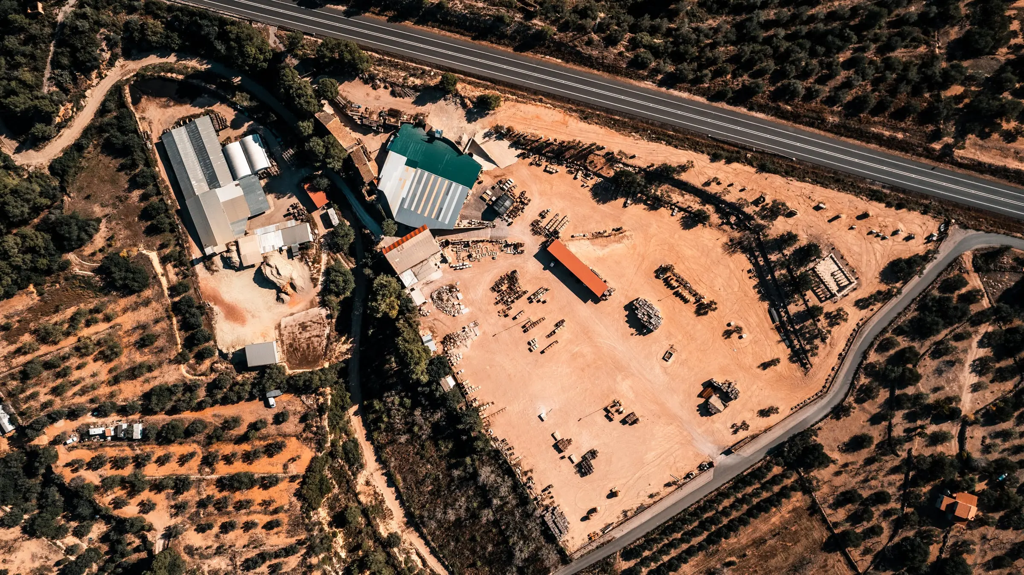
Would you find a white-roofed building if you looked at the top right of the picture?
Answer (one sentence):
No, no white-roofed building can be made out at the top right of the picture.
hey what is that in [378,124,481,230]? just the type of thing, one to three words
building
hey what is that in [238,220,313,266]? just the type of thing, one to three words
shed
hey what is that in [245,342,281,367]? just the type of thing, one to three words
barn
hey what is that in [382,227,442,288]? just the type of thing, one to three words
building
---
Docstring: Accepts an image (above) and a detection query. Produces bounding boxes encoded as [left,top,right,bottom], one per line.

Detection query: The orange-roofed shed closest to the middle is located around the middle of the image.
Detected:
[547,240,608,297]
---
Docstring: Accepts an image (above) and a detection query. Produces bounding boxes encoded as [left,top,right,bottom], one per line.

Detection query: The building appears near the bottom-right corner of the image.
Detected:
[935,490,978,526]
